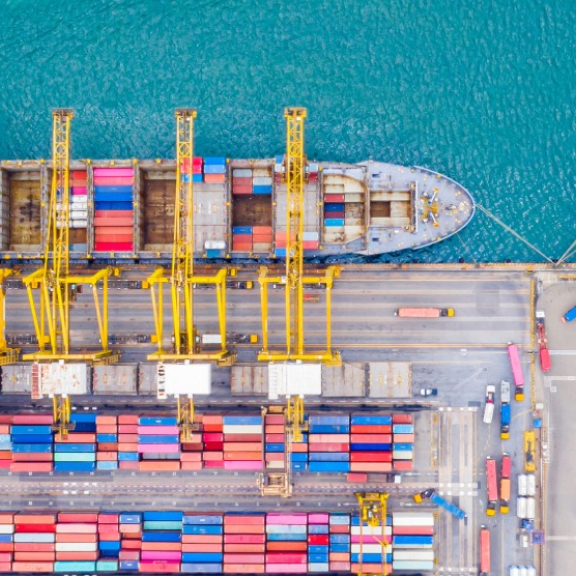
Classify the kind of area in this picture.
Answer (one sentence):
The area seen from above is a port.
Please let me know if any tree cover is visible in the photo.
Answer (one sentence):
No, there's no tree cover in this view.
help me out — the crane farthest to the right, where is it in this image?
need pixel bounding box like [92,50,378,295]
[349,489,394,576]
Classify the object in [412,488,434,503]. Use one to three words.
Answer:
vehicle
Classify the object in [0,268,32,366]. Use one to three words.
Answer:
container crane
